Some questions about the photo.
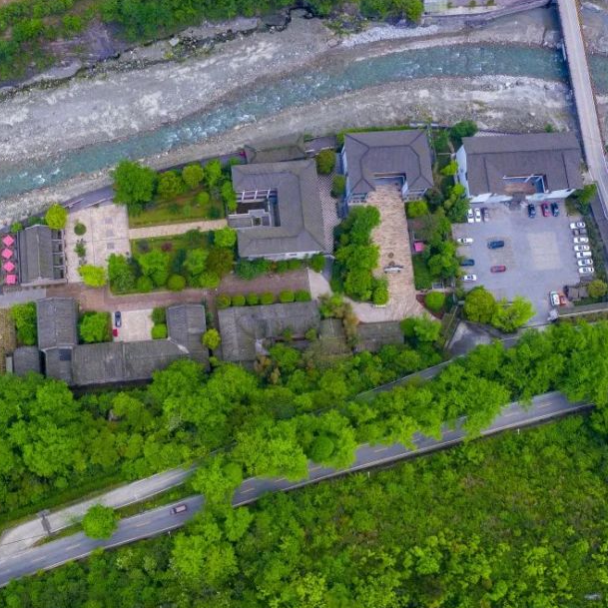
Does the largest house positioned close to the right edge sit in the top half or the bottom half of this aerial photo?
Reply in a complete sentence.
You can find the largest house positioned close to the right edge in the top half.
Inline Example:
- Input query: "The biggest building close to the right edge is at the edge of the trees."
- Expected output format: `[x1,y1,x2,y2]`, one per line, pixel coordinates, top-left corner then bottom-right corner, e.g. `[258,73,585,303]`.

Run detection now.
[453,132,585,208]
